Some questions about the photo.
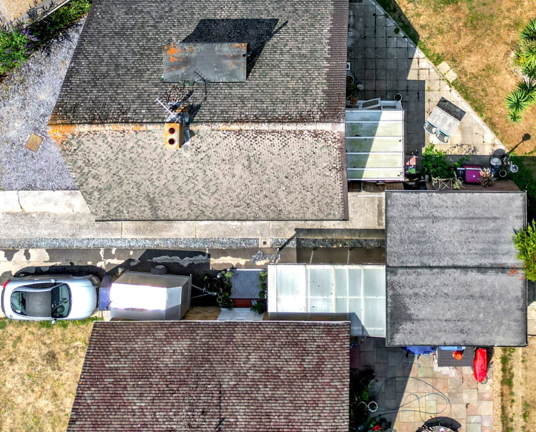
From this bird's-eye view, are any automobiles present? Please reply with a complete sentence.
Yes, there's an automobile here.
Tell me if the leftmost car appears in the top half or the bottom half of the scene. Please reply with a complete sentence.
The leftmost car is in the bottom half of the image.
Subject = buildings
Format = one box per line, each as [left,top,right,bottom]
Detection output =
[67,302,350,432]
[386,179,527,347]
[53,0,349,222]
